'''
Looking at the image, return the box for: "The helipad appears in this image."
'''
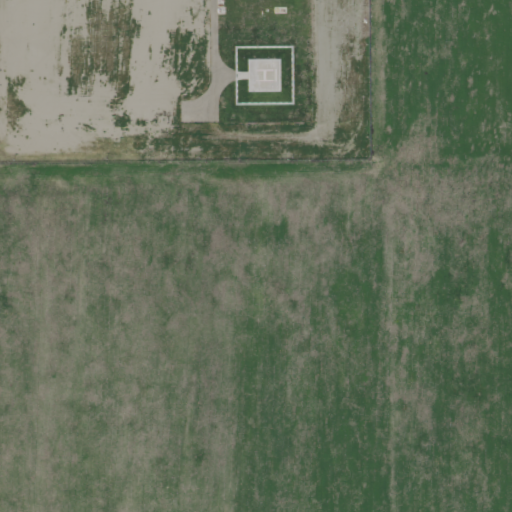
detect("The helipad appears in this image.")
[235,46,294,106]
